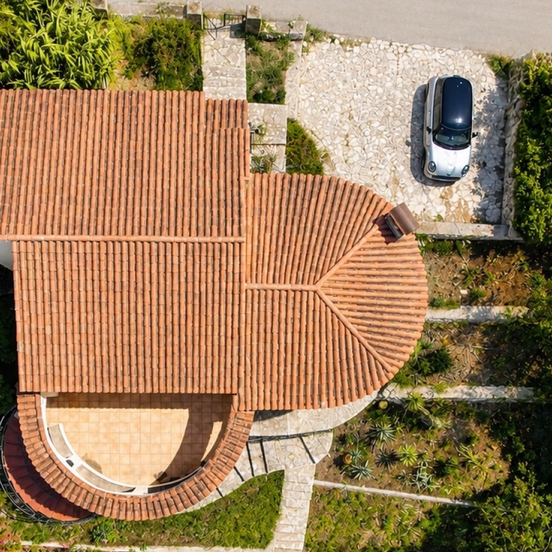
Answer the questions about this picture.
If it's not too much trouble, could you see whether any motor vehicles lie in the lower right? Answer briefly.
No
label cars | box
[421,67,486,183]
